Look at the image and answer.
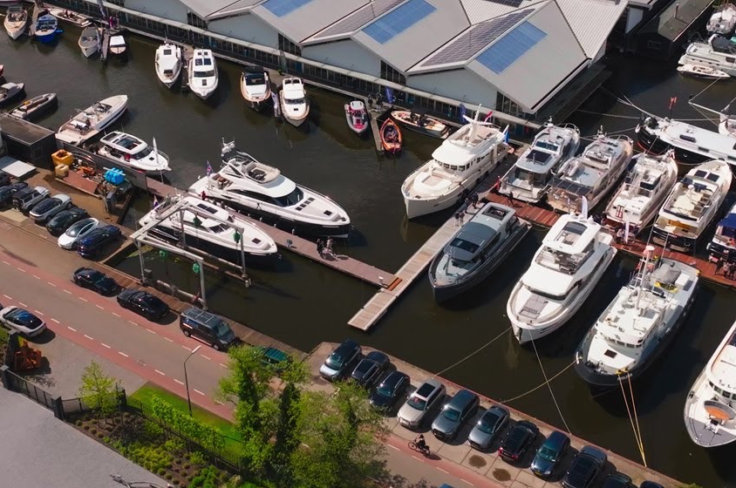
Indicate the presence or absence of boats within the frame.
Yes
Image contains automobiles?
Yes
